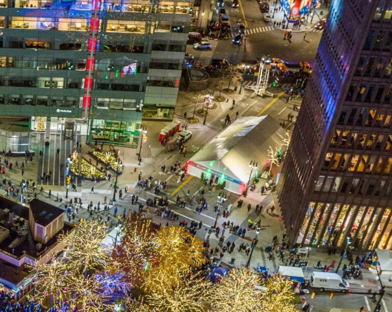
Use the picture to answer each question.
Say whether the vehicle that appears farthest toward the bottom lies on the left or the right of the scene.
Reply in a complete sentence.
It is on the right.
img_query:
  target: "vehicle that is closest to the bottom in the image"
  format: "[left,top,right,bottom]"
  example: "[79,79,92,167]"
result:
[311,270,353,295]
